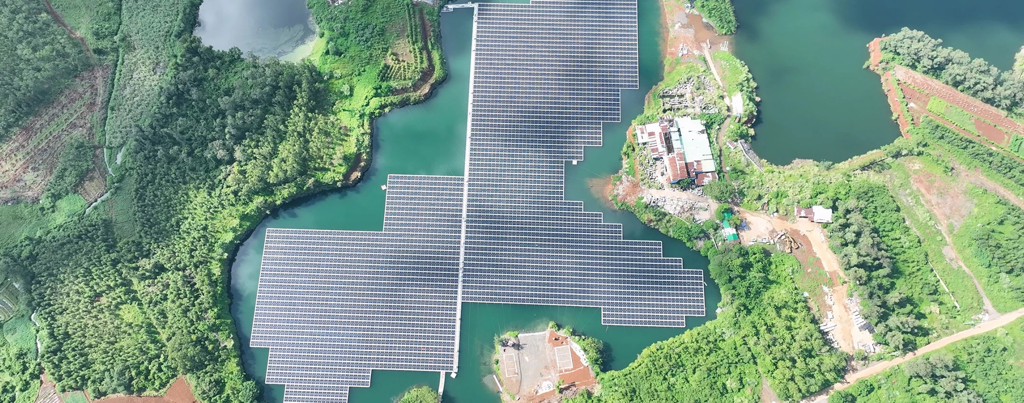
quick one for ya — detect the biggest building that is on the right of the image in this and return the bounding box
[635,115,717,188]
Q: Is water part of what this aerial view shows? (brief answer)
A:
Yes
